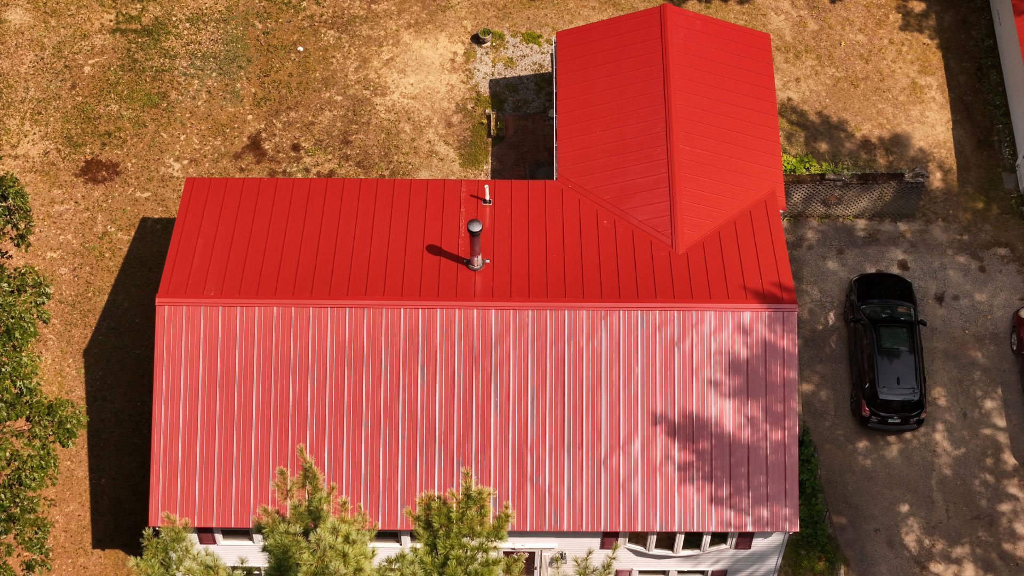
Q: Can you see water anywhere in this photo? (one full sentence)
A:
No, there's no water in this view.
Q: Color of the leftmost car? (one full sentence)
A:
From above, the leftmost car appears black.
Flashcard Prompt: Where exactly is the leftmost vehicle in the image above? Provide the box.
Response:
[844,272,928,434]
